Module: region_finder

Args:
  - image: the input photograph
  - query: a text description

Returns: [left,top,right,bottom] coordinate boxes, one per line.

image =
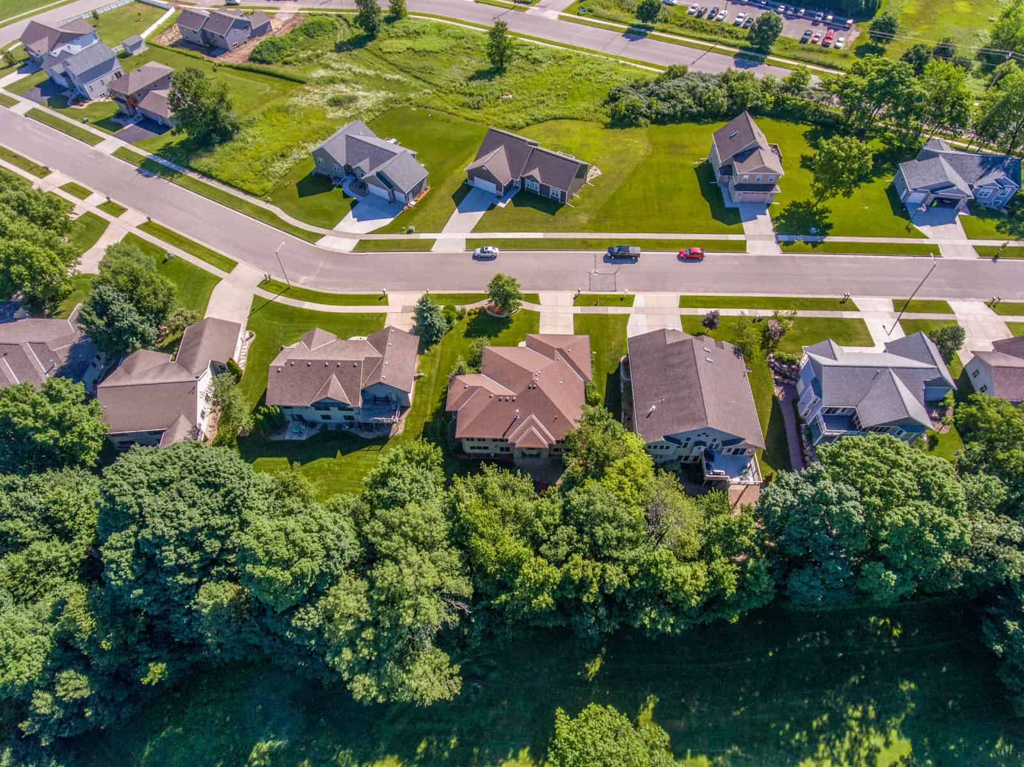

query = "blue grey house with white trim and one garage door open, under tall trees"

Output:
[894,138,1024,210]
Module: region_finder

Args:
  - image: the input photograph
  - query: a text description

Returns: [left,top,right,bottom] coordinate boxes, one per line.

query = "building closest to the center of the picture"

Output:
[446,333,592,466]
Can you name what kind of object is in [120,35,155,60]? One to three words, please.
shed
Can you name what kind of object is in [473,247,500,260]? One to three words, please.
vehicle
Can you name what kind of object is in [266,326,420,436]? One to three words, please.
house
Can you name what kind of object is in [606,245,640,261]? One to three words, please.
vehicle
